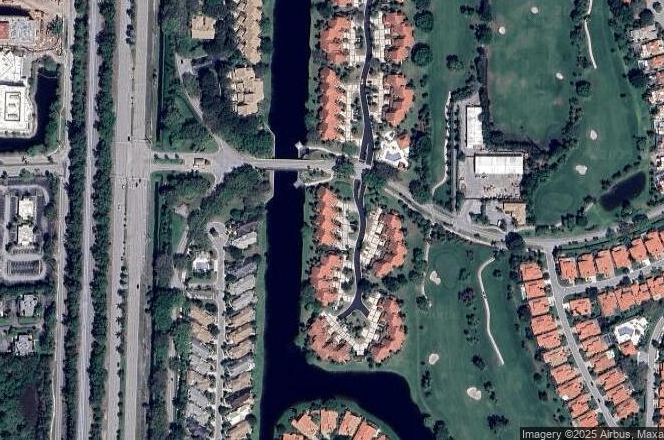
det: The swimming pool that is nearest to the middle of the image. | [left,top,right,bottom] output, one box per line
[379,132,409,169]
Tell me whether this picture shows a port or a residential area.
residential area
